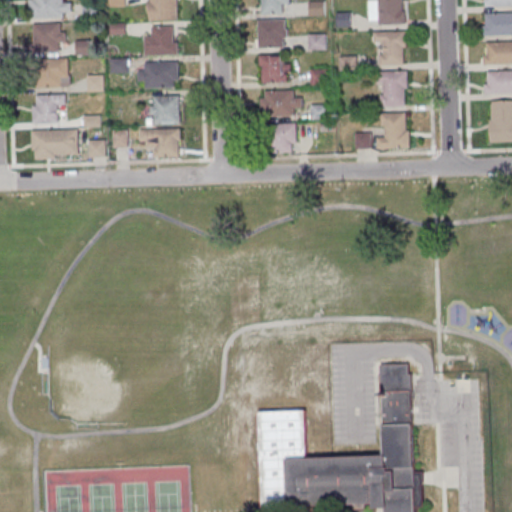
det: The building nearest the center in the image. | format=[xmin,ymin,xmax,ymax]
[272,123,296,154]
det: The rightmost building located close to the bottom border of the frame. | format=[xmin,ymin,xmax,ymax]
[284,363,423,512]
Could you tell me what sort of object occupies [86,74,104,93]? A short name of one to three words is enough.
building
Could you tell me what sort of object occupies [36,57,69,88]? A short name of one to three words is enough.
house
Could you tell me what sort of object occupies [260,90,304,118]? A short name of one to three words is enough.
house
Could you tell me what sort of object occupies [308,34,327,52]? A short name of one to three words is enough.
building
